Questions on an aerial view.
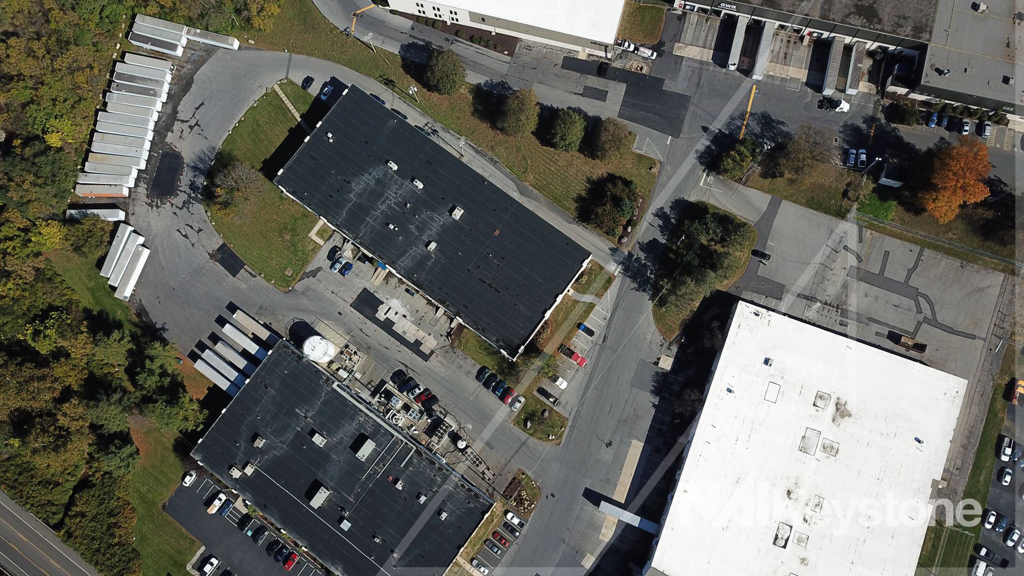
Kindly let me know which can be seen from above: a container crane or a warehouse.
warehouse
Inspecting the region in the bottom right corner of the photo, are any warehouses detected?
Yes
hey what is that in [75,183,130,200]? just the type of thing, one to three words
trailer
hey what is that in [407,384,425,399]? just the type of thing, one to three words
car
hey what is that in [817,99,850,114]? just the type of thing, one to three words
vehicle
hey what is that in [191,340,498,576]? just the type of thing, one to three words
building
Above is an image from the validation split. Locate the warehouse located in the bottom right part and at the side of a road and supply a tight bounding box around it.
[644,301,968,576]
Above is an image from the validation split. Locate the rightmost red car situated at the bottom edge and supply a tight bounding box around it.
[492,531,511,548]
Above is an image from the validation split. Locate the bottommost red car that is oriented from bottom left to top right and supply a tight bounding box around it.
[282,552,300,571]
